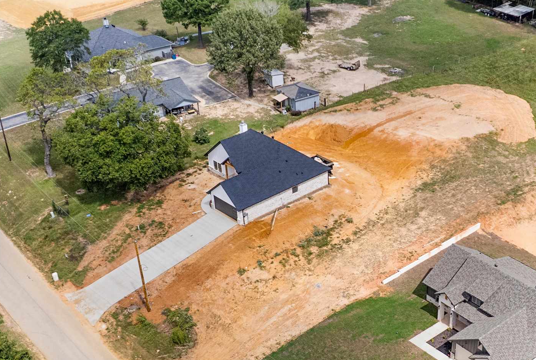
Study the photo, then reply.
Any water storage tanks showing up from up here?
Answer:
No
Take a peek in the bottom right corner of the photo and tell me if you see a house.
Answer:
Yes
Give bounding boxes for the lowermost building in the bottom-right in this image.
[410,321,454,360]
